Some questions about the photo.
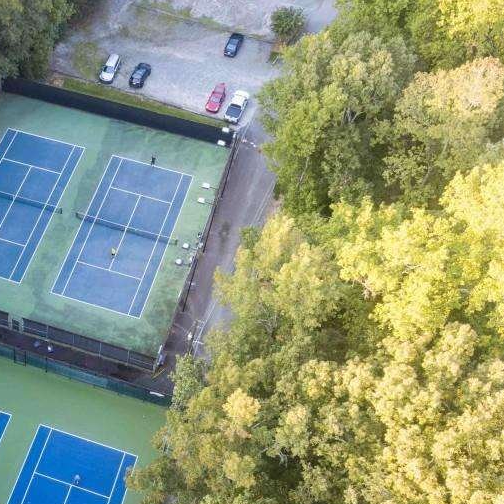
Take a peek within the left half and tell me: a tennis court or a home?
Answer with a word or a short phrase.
tennis court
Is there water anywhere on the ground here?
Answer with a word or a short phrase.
No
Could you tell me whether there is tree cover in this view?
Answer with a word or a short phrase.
Yes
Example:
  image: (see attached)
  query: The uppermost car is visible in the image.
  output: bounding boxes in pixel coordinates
[222,27,246,56]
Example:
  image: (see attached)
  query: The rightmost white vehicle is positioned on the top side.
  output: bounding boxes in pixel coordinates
[224,88,249,120]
